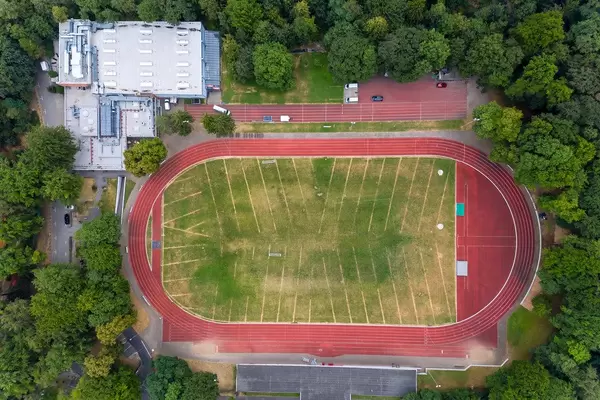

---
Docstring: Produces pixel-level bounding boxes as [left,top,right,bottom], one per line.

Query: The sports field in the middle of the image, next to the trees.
[161,156,455,325]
